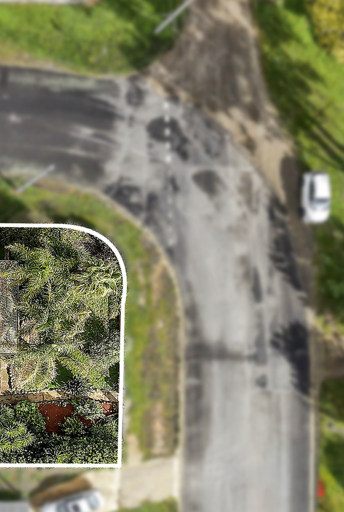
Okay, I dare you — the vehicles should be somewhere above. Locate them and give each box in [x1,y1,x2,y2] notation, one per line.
[39,487,105,512]
[297,169,331,225]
